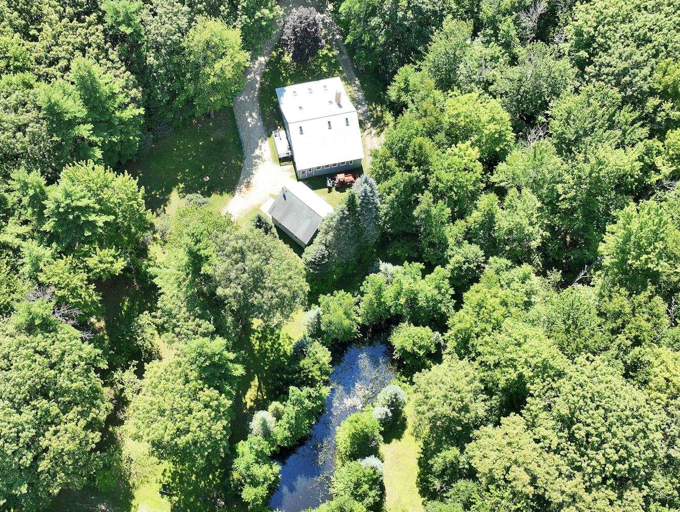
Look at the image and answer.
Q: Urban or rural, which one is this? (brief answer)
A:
rural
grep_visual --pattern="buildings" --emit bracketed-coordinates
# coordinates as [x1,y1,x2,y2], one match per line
[268,183,335,247]
[275,76,365,179]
